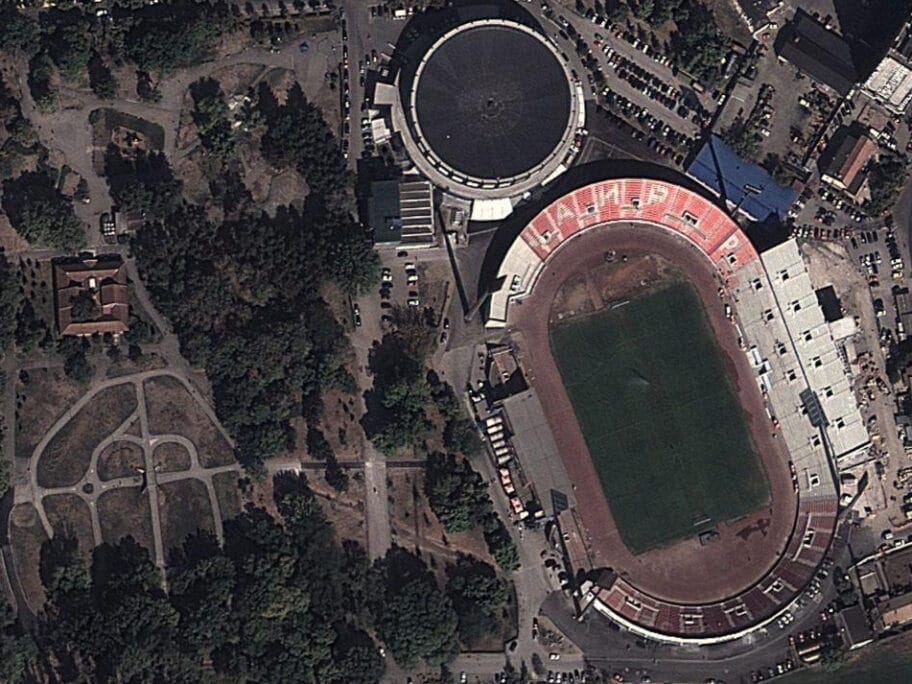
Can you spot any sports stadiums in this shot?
Yes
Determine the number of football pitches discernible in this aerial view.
1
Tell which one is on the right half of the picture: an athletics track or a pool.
athletics track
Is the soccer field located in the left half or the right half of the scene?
right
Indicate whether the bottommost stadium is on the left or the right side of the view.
right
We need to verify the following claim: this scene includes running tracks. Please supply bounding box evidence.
[522,221,797,605]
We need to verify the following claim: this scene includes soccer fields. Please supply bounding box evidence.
[551,279,771,552]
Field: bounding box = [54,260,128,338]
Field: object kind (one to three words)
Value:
house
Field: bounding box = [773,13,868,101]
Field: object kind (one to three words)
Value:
building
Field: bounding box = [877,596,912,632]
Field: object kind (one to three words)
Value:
house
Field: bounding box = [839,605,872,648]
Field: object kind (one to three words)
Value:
building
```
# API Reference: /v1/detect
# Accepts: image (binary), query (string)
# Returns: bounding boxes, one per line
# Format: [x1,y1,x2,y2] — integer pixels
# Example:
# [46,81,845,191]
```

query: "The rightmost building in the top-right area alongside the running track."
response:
[684,135,800,224]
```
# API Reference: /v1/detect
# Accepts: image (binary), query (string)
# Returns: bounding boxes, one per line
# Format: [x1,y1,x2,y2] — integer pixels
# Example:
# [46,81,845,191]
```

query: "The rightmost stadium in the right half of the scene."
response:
[487,177,872,646]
